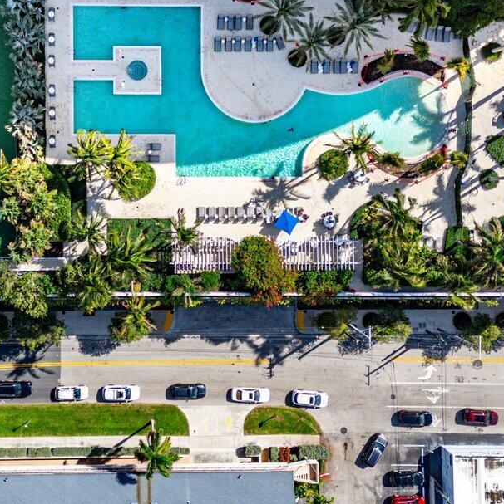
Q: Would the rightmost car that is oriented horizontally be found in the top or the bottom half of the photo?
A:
bottom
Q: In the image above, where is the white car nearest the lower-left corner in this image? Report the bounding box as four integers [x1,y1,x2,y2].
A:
[52,384,89,403]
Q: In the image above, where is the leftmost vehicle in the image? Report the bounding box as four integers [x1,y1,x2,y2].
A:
[0,380,32,399]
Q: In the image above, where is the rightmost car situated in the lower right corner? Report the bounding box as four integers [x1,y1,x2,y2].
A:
[461,408,501,428]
